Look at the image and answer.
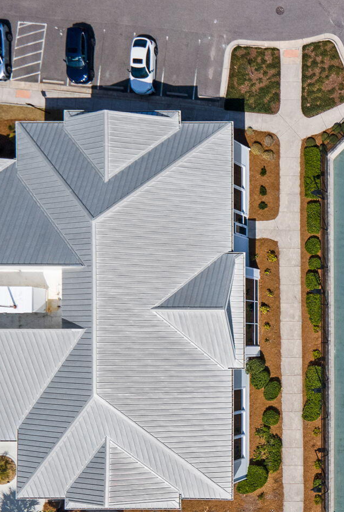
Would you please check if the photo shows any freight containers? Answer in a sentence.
No, the scene contains no freight container.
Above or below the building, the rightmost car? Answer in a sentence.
As seen from overhead, the rightmost car falls above the building in the picture.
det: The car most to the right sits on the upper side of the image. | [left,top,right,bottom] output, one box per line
[125,37,156,95]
